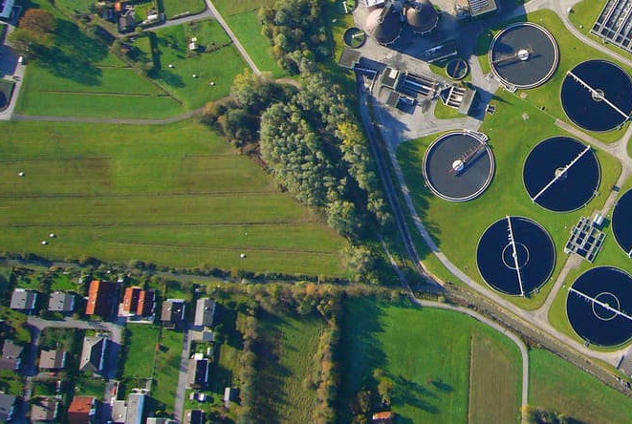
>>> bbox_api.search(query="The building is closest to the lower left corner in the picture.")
[0,393,19,423]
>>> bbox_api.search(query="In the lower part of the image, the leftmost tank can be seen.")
[476,215,556,299]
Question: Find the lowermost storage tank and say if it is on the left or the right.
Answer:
right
